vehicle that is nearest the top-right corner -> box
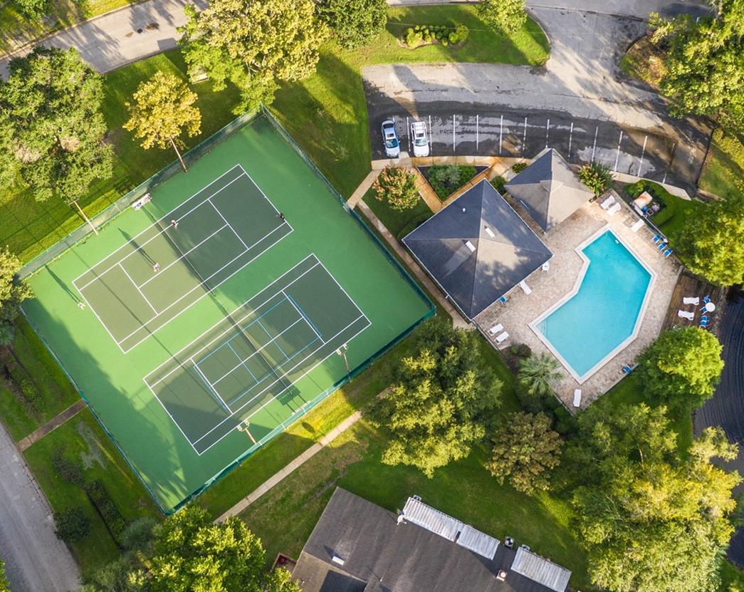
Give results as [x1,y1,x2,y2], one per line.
[411,118,430,155]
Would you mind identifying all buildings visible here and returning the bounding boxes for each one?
[294,486,572,592]
[503,149,596,234]
[403,179,555,320]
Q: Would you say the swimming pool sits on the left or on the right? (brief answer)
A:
right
